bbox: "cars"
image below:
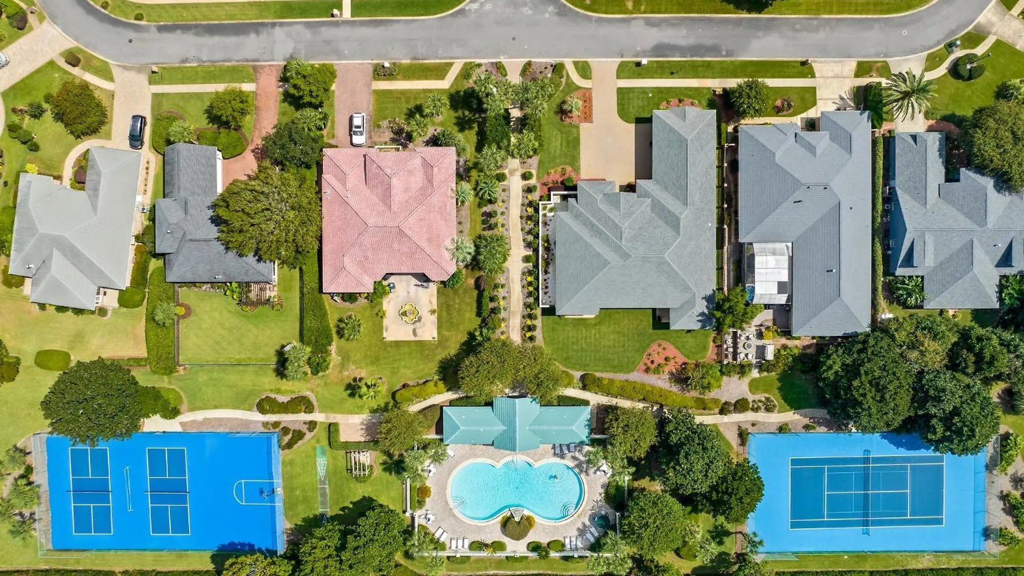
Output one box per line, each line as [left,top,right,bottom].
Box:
[0,48,11,64]
[350,112,365,145]
[126,115,144,148]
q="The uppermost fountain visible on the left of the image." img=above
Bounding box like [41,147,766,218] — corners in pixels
[399,303,420,324]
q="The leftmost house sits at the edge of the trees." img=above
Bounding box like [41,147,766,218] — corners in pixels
[8,147,148,310]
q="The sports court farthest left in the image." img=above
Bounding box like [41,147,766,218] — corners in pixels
[46,431,284,551]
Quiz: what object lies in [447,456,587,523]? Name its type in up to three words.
swimming pool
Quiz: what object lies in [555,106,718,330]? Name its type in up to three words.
house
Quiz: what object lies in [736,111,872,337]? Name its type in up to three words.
house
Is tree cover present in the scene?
Yes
